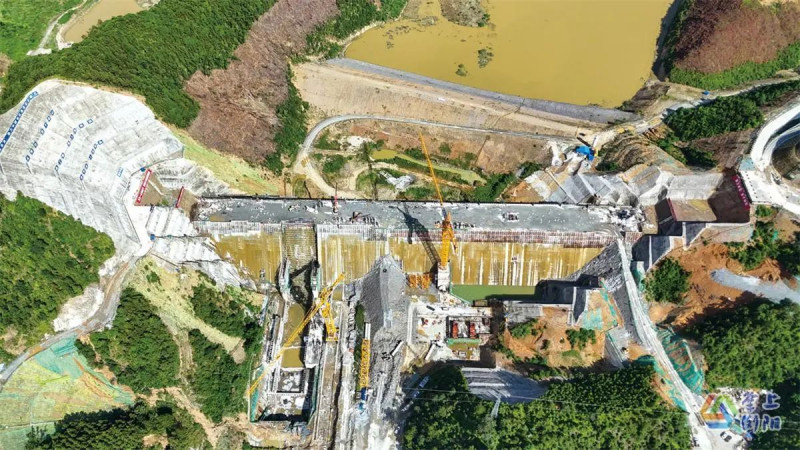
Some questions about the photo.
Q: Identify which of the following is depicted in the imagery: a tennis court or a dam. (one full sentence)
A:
This aerial view contains a dam.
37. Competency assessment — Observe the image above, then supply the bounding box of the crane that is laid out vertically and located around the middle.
[419,127,462,294]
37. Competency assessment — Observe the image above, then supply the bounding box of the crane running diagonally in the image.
[245,274,352,395]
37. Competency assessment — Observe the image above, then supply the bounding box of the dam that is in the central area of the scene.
[195,195,651,310]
